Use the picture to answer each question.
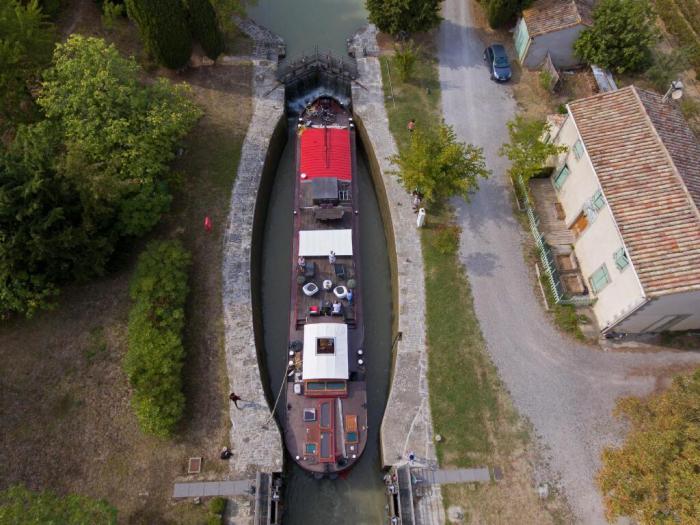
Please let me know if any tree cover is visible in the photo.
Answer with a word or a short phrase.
Yes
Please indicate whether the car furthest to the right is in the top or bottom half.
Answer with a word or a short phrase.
top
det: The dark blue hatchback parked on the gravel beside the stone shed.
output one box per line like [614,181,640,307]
[486,39,515,80]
